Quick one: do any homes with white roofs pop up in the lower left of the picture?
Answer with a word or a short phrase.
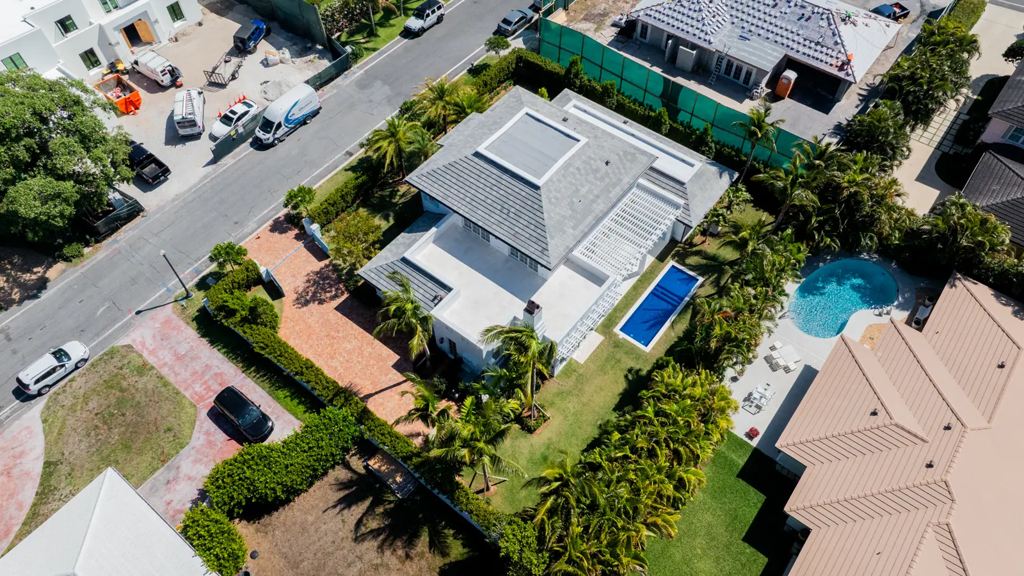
Yes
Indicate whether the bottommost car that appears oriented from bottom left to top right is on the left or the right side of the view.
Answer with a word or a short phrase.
left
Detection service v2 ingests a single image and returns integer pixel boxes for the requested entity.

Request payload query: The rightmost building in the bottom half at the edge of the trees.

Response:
[775,268,1024,576]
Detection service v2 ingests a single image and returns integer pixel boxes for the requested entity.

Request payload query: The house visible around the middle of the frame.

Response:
[356,85,738,389]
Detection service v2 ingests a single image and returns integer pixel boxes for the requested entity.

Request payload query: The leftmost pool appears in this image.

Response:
[620,265,699,347]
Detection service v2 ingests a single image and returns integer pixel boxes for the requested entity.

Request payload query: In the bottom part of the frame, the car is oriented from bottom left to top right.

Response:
[10,339,86,399]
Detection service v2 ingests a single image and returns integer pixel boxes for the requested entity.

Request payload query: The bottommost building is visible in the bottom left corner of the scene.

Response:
[0,466,225,576]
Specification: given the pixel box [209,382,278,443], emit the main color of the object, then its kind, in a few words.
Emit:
black car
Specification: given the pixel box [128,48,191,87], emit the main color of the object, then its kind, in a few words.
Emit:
white van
